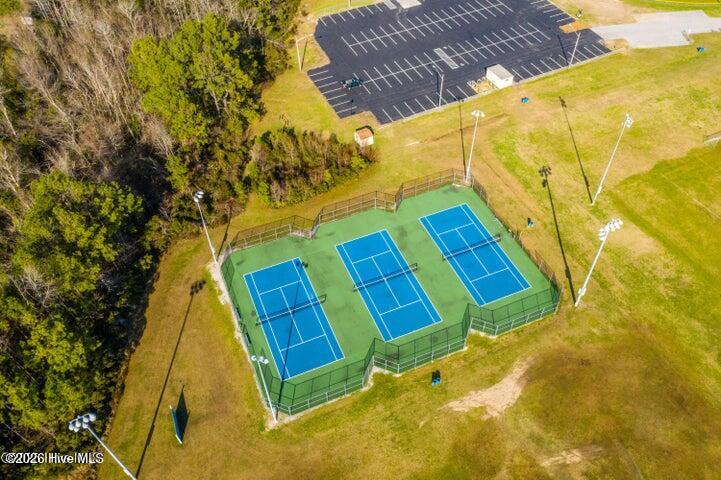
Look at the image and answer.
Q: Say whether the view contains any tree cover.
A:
Yes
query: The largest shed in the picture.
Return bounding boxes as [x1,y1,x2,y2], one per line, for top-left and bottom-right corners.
[487,64,517,89]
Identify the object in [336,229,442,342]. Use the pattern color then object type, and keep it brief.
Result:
blue tennis court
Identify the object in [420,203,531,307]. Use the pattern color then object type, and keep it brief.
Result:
blue tennis court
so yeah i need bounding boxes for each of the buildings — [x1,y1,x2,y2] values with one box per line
[487,64,517,89]
[354,127,374,146]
